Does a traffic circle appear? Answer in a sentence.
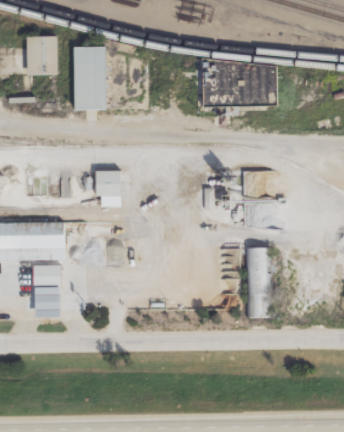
No, this view has no traffic circle in it.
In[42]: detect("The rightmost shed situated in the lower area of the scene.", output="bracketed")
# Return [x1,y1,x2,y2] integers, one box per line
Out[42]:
[246,248,270,318]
